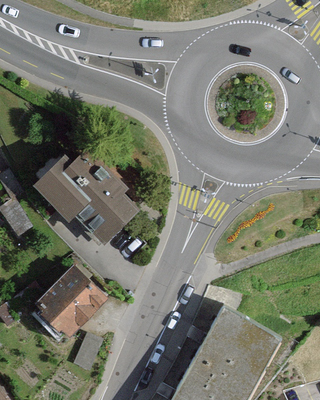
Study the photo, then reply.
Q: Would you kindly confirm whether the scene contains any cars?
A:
Yes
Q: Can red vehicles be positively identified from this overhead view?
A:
No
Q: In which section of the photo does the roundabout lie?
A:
top right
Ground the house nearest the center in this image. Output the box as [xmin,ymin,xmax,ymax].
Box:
[34,154,140,245]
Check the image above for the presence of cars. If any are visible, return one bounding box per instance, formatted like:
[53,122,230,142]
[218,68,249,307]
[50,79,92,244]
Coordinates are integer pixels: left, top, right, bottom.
[112,230,132,249]
[2,4,20,18]
[123,238,144,258]
[151,344,166,364]
[180,284,195,304]
[60,24,81,38]
[282,68,302,85]
[286,388,300,400]
[143,38,164,48]
[231,44,252,56]
[168,310,182,329]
